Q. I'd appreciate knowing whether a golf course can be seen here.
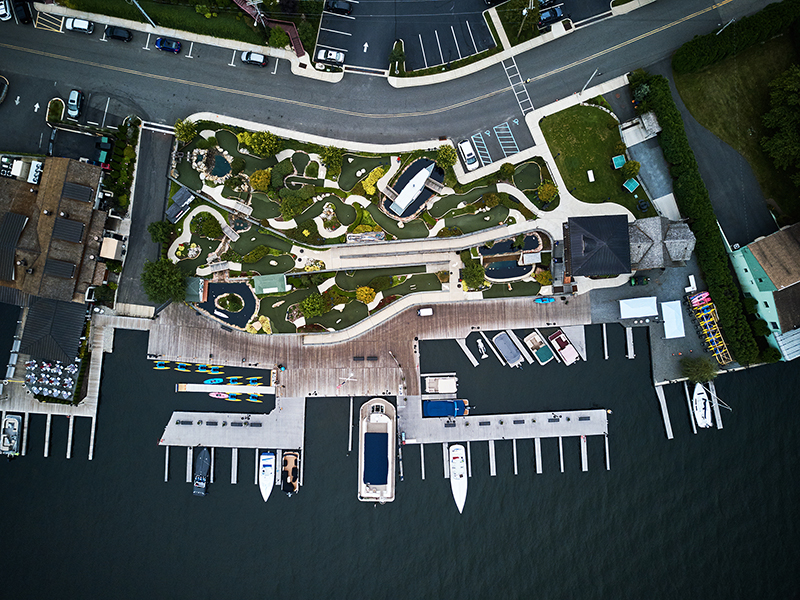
Yes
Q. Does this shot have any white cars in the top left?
Yes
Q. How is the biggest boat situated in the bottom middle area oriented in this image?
vertically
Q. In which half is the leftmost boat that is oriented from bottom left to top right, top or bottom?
top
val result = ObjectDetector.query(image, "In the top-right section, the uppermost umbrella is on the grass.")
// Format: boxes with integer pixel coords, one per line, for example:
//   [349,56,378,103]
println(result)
[612,154,627,169]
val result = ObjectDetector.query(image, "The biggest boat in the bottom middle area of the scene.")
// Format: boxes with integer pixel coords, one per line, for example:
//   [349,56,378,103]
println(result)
[359,398,396,508]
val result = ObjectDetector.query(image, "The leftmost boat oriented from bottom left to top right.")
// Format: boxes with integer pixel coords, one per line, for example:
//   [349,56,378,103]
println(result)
[388,163,435,219]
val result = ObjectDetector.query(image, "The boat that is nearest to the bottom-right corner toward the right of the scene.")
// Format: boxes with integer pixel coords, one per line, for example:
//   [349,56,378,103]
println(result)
[691,381,734,433]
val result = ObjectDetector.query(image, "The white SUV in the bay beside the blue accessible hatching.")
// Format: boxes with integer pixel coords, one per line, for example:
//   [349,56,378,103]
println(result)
[457,138,478,172]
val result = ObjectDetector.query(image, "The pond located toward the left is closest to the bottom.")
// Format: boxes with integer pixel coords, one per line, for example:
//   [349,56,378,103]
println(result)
[194,280,258,330]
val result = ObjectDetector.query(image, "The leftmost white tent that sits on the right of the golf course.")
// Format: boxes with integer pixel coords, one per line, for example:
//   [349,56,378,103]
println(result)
[618,296,659,320]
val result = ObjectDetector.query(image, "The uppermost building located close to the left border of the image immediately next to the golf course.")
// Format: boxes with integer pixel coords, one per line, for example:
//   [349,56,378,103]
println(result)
[0,157,109,309]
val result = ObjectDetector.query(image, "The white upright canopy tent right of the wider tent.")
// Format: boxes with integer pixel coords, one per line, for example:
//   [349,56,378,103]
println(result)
[659,300,686,339]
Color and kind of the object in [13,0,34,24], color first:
black car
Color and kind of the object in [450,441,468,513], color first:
white boat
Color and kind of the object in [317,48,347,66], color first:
white car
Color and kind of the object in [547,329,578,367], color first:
white boat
